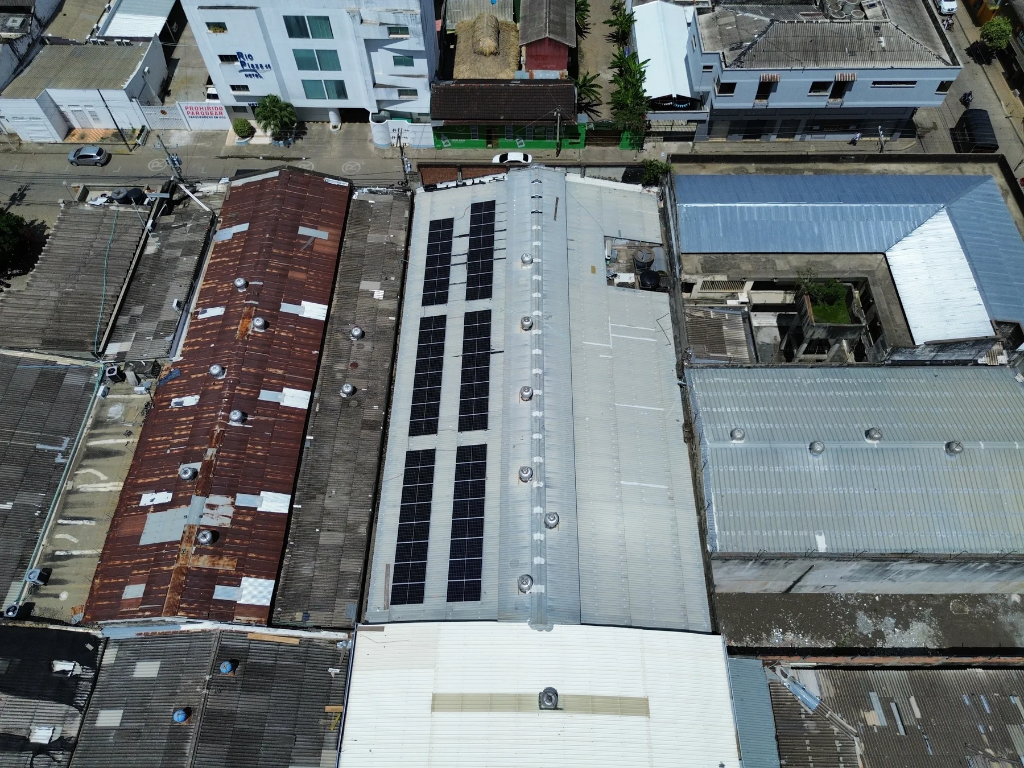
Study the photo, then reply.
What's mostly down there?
buildings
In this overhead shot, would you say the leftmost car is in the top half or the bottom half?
top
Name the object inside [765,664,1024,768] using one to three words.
shed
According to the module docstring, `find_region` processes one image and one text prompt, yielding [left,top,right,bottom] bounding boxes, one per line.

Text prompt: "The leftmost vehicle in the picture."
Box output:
[62,143,111,167]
